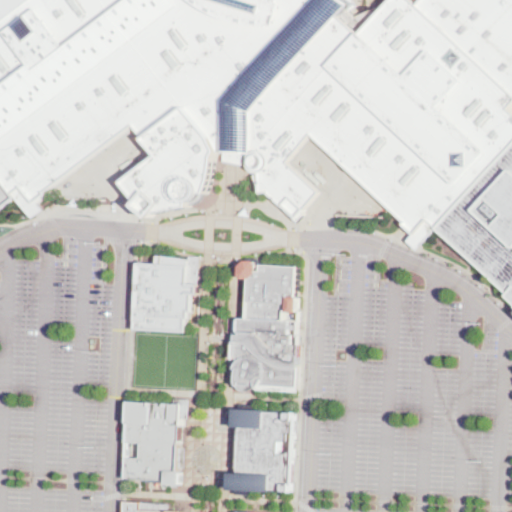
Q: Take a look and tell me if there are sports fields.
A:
Yes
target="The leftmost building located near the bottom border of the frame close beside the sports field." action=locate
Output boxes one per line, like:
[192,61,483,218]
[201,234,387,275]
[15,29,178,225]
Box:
[122,400,190,487]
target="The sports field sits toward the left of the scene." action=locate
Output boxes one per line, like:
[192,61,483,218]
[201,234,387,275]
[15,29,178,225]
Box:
[132,332,198,390]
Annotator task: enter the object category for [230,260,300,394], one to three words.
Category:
building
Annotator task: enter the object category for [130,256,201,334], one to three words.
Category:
building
